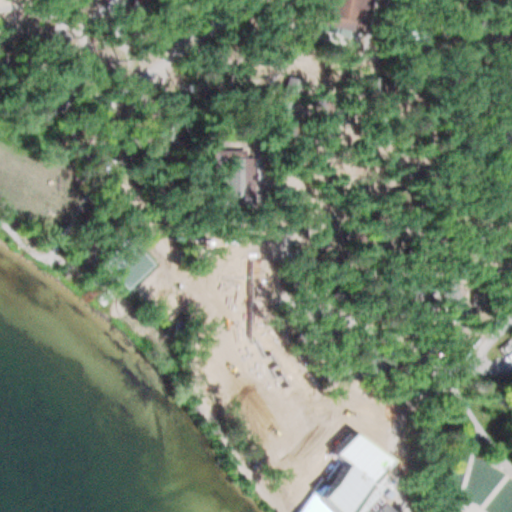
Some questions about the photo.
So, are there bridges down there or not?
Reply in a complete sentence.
No, the frame has no bridge in it.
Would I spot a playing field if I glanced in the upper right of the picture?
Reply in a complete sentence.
No, I can find no playing field in the upper right of the picture.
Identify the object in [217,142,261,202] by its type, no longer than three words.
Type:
house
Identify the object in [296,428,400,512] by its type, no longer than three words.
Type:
building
